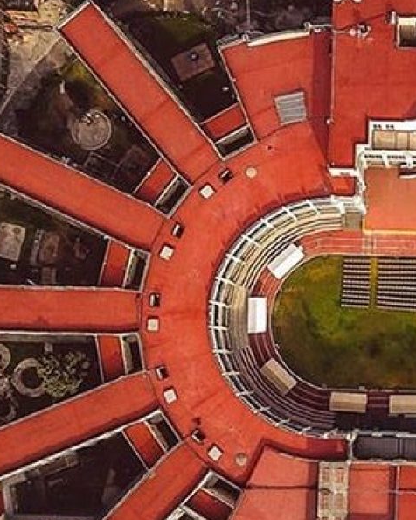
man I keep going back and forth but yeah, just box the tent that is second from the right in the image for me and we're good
[331,391,368,412]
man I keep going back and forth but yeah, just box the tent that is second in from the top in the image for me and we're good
[247,297,267,332]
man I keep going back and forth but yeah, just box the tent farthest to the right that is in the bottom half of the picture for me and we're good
[390,393,416,414]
